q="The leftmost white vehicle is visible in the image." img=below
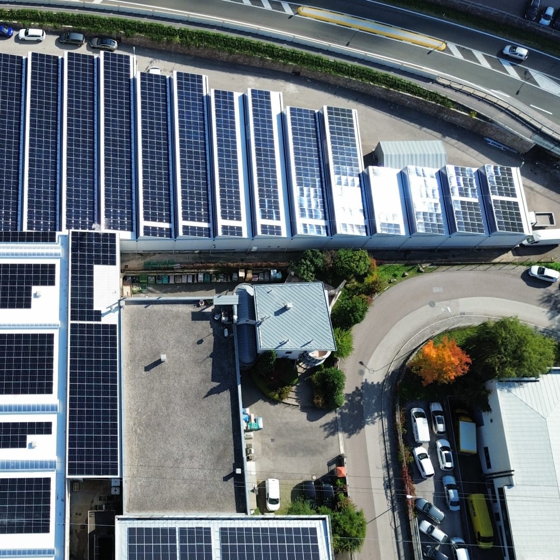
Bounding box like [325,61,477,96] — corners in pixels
[17,25,48,42]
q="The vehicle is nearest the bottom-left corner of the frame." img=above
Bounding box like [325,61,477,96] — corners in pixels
[264,474,283,516]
